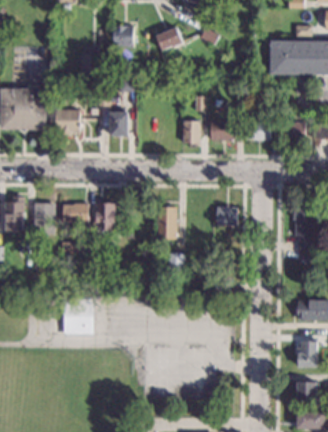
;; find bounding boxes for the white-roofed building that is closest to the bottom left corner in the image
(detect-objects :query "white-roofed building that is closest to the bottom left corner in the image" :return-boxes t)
[64,300,96,337]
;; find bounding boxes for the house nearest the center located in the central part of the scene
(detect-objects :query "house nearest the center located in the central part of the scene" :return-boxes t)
[158,204,178,240]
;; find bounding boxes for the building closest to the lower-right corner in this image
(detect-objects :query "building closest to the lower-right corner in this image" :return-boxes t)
[296,415,327,430]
